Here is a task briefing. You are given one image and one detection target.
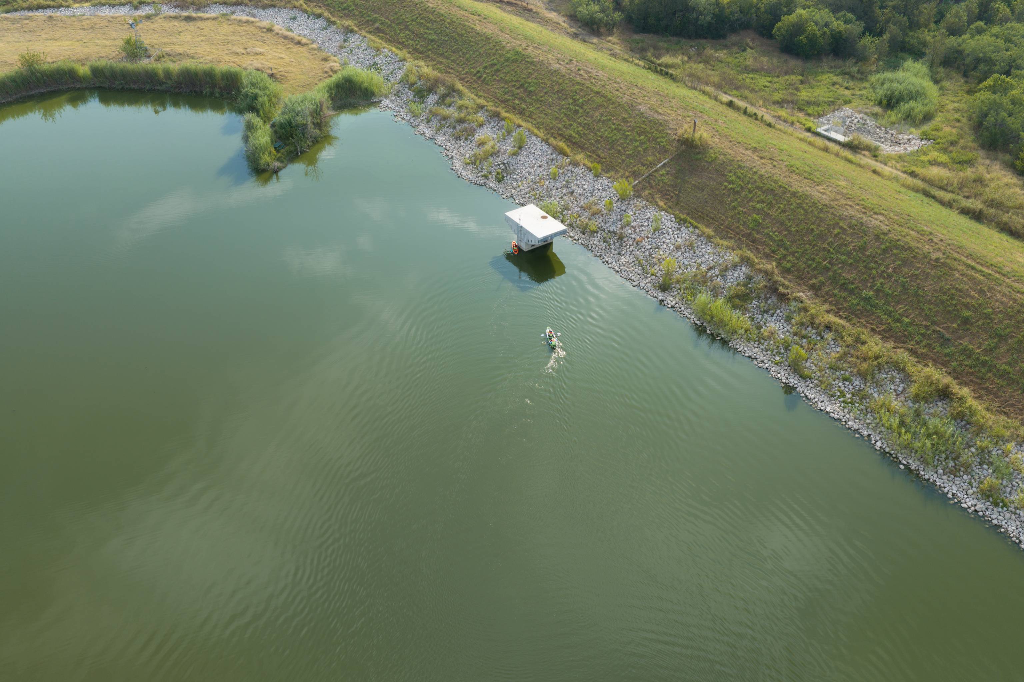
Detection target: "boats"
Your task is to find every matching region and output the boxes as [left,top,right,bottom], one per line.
[546,324,556,348]
[511,238,519,253]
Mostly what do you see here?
water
